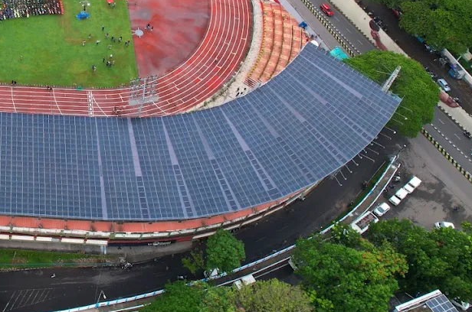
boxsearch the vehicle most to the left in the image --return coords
[318,1,336,15]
